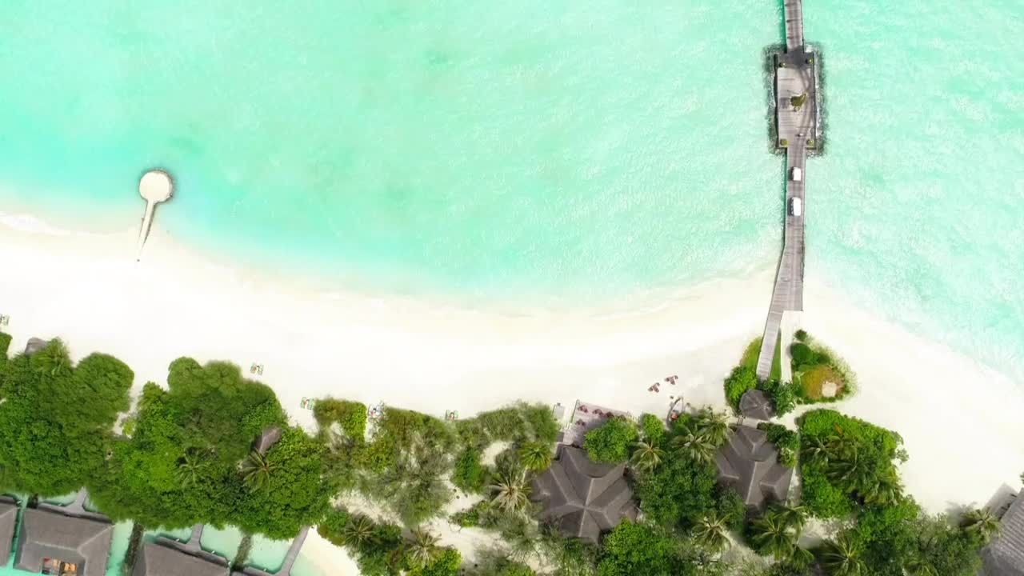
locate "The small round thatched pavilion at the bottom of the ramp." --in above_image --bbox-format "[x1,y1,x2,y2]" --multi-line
[740,390,773,420]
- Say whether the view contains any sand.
Yes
